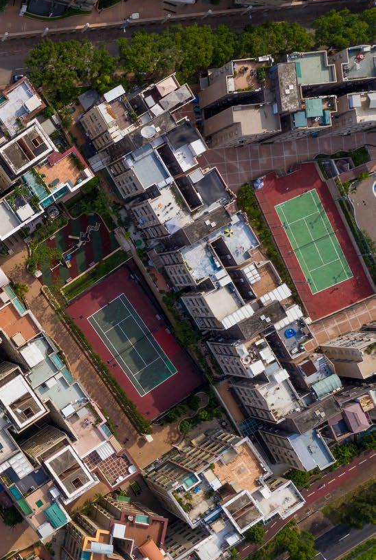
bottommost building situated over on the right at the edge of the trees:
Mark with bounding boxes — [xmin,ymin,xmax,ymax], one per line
[146,427,306,560]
